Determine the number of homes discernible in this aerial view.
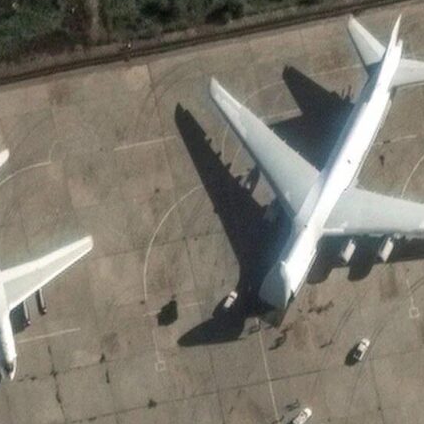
none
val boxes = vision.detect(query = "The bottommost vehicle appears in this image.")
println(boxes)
[293,411,313,424]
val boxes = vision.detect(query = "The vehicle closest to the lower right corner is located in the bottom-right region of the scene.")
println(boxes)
[352,340,369,362]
